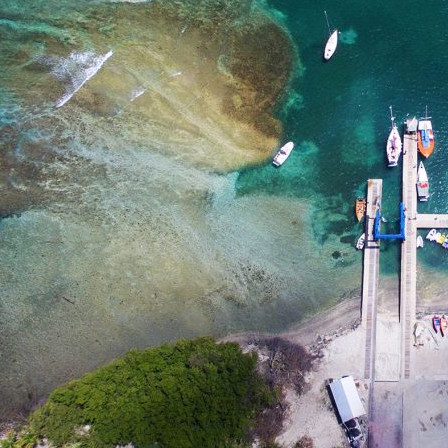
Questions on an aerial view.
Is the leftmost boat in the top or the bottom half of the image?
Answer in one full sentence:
You can find the leftmost boat in the top half.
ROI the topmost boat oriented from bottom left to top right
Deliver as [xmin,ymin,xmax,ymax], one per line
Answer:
[271,142,293,169]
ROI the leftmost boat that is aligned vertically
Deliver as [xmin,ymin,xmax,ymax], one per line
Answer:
[324,7,339,62]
